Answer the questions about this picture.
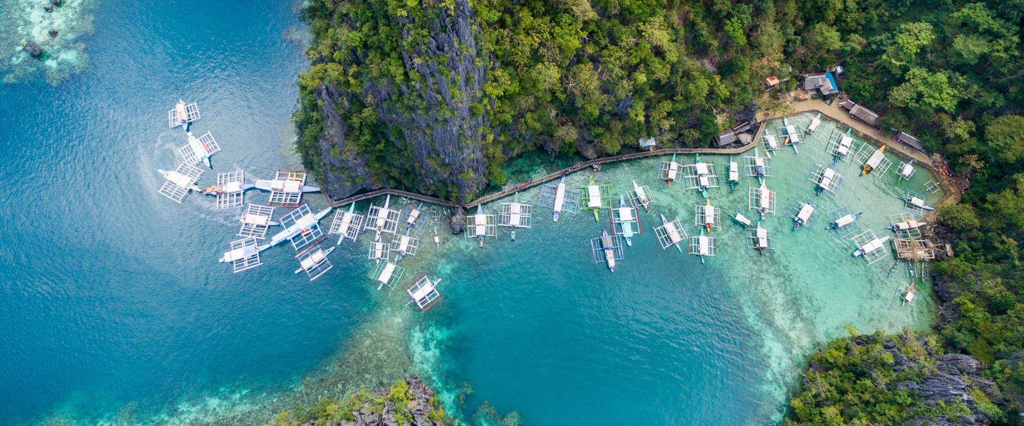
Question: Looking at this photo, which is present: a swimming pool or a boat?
boat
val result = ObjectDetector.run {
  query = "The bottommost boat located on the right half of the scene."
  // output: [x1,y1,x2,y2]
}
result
[896,282,920,307]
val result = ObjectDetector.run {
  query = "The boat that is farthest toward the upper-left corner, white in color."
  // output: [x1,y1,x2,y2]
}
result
[168,98,201,130]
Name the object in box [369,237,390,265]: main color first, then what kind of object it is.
white boat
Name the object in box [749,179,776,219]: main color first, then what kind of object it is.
white boat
